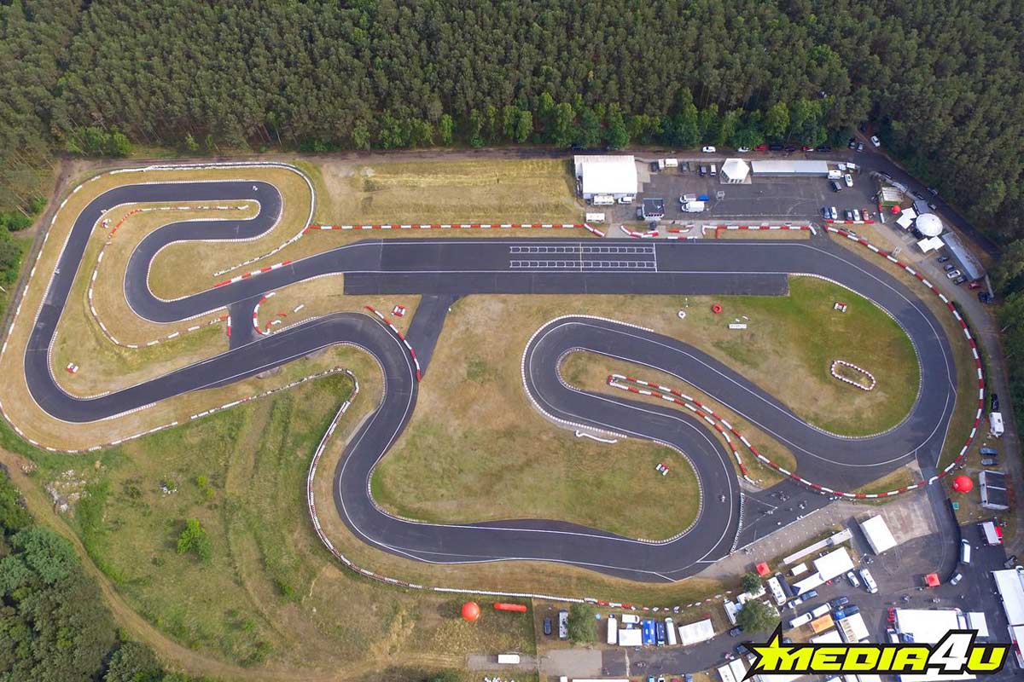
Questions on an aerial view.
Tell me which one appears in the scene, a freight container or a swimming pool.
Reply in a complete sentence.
Of the two, only a freight container appears.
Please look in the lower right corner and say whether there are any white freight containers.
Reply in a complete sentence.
Yes, looking in the lower right corner, one can make out a white freight container.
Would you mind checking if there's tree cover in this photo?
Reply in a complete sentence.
Yes, there's tree cover in this view.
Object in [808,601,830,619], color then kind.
white vehicle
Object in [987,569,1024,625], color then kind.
white tent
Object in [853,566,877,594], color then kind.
white camper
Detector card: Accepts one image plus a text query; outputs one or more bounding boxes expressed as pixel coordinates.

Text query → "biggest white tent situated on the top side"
[910,214,941,242]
